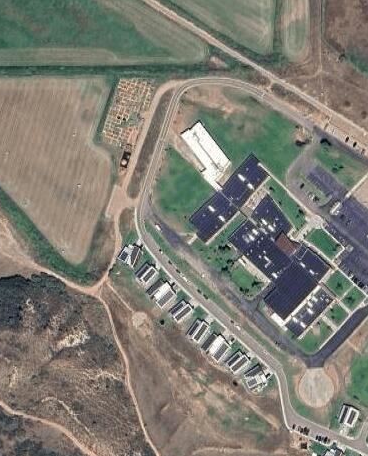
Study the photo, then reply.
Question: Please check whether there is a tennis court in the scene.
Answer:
No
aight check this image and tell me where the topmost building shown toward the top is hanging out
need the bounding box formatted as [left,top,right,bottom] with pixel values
[181,123,231,191]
